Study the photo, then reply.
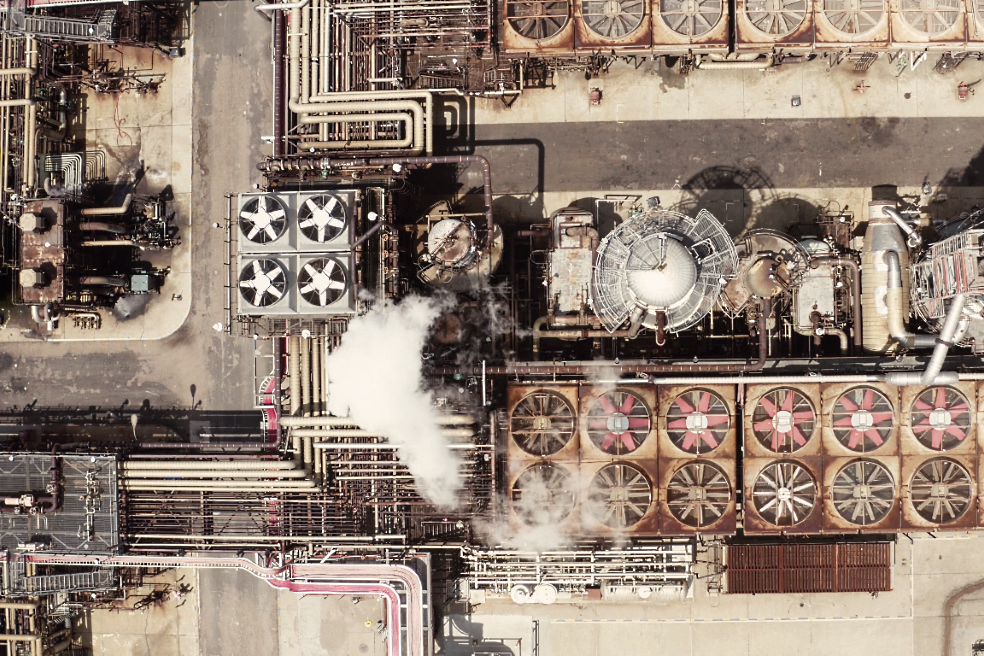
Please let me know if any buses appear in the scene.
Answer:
No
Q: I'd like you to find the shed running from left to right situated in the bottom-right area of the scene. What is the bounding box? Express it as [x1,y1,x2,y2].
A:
[719,534,895,594]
